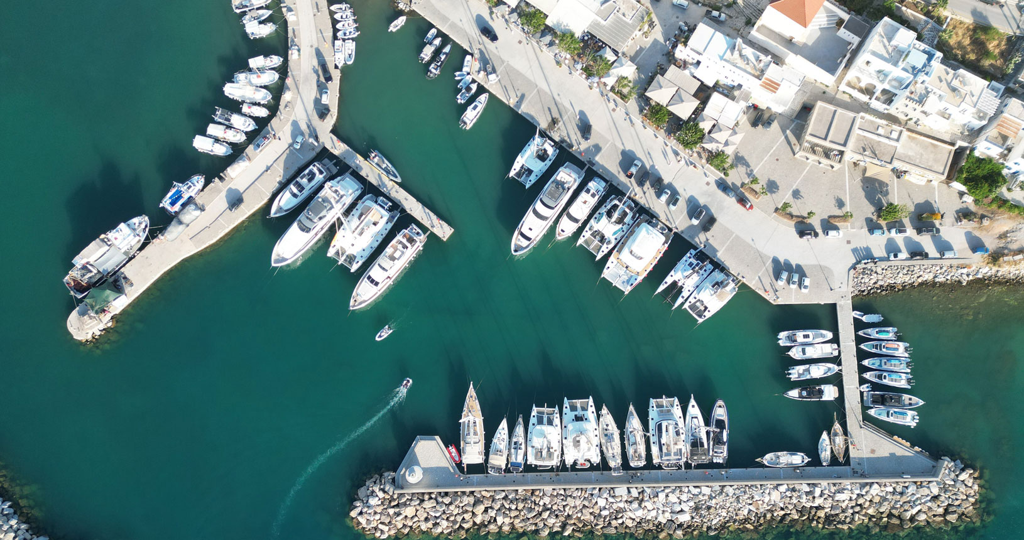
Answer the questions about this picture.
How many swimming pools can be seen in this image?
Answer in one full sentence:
No swimming pools are visible.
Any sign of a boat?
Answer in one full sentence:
Yes, a boat can be made out from above.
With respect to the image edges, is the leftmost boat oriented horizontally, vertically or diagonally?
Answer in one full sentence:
From this overhead view, the leftmost boat appears to run diagonally.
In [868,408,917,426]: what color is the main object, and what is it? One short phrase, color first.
white boat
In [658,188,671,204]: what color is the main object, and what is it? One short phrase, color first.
white vehicle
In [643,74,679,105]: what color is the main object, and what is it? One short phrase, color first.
white tent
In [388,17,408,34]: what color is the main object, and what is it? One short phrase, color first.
white boat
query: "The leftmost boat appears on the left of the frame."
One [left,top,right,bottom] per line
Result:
[65,216,164,306]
